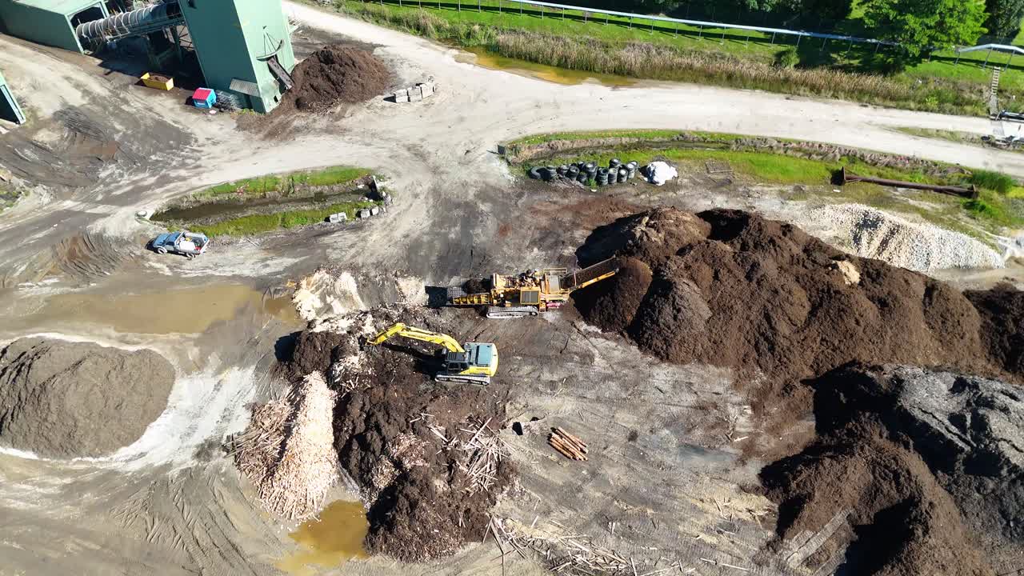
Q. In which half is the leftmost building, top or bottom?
top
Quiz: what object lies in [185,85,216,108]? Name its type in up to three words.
shed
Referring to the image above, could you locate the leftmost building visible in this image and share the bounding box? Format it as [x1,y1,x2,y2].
[0,62,32,123]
